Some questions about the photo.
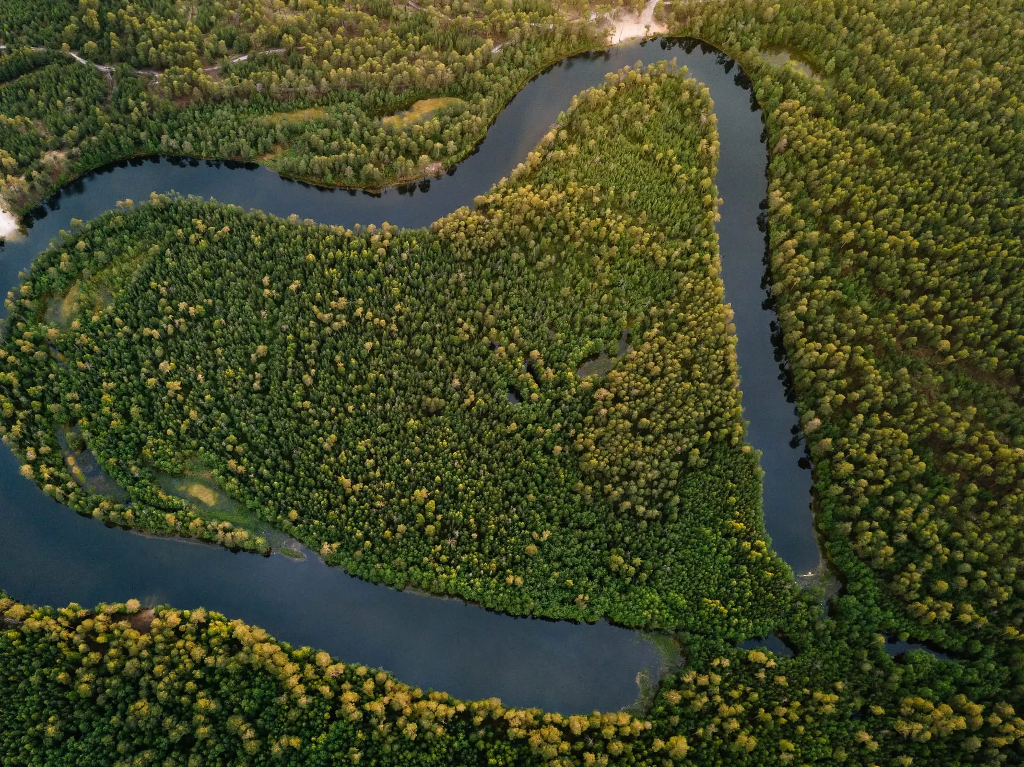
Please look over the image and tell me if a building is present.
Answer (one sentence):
No, I find no building anywhere in the image.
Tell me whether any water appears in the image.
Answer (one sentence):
Yes, there's water in this view.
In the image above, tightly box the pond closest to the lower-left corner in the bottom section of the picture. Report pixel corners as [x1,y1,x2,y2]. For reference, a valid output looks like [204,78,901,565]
[56,420,131,505]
